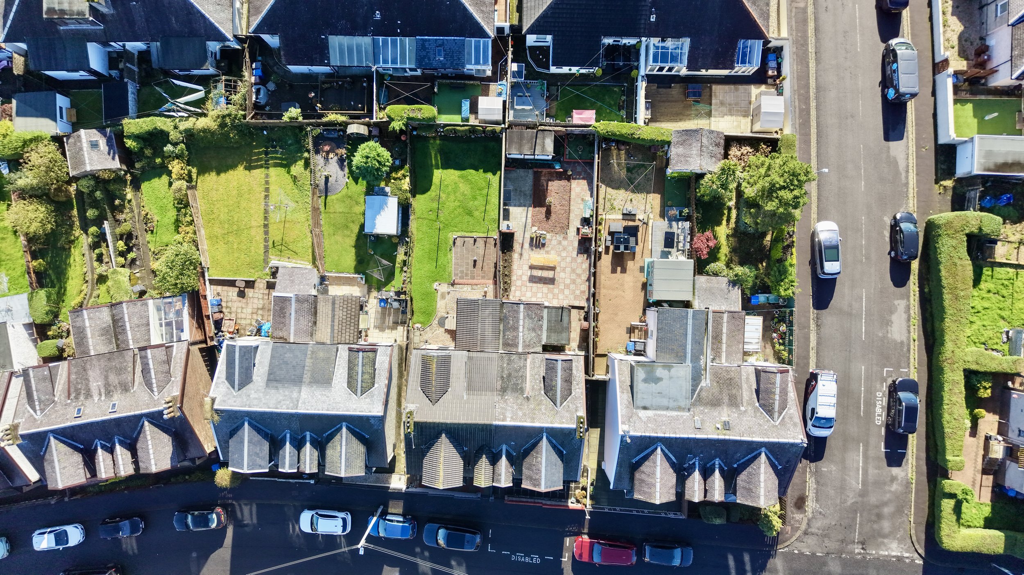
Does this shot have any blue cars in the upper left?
No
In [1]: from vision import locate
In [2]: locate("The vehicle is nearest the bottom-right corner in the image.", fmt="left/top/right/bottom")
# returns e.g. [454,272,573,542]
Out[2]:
[886,378,921,433]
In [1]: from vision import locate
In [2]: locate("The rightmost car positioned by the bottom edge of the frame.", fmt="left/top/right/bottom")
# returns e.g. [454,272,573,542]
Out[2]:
[643,541,694,572]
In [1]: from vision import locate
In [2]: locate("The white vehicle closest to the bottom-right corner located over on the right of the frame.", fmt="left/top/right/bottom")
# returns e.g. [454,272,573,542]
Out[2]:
[806,372,839,432]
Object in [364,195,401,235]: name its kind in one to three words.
shed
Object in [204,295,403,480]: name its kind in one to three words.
house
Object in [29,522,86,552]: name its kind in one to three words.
car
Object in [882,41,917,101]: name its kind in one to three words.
van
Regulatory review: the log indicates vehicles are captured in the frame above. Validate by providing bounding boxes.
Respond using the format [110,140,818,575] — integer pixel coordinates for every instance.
[369,514,418,543]
[300,509,352,538]
[882,41,917,101]
[97,514,145,543]
[889,212,921,261]
[575,537,638,568]
[0,535,11,560]
[29,522,86,552]
[643,541,694,572]
[173,507,227,535]
[812,222,844,276]
[806,372,839,432]
[423,522,483,553]
[886,378,921,433]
